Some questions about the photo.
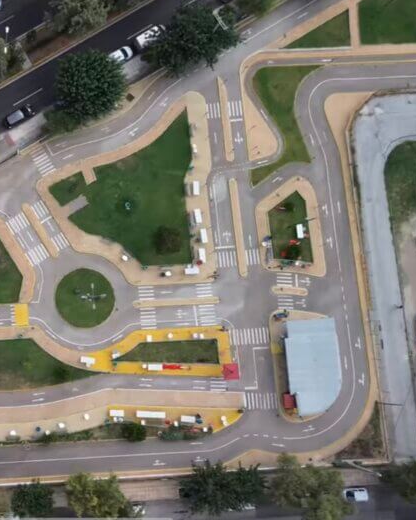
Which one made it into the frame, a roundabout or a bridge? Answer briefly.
roundabout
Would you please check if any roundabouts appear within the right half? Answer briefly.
No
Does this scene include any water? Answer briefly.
No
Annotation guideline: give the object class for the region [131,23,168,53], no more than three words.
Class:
car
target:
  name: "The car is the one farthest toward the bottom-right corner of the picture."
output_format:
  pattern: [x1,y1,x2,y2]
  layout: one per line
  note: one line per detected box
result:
[342,487,370,501]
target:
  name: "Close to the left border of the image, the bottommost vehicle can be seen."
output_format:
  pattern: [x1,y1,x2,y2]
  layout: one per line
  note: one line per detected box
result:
[2,104,34,129]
